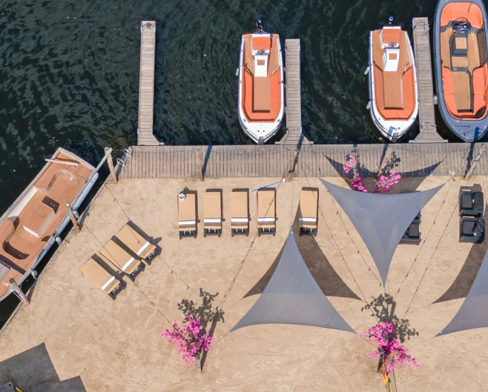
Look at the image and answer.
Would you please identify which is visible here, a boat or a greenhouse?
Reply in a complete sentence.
Looking from above, you can make out a boat.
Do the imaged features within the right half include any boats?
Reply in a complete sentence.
Yes, within the right half there is a boat.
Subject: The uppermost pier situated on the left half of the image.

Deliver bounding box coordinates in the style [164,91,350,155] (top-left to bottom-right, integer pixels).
[135,20,164,142]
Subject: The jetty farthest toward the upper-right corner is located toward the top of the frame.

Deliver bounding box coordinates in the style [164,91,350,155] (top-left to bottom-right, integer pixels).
[408,16,448,142]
